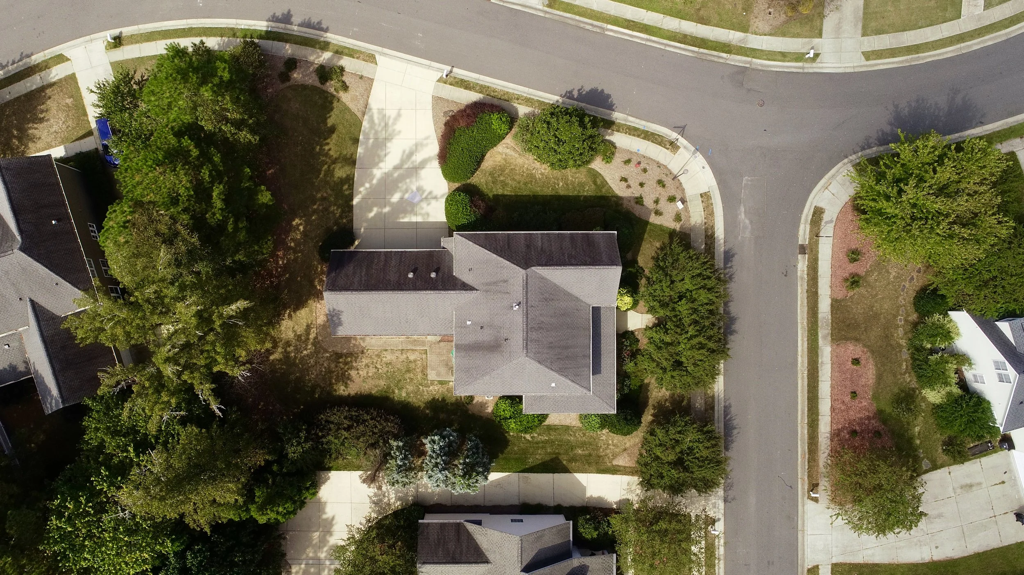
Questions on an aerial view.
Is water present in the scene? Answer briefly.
No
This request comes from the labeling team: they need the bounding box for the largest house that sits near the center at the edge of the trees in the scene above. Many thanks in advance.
[322,230,622,415]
